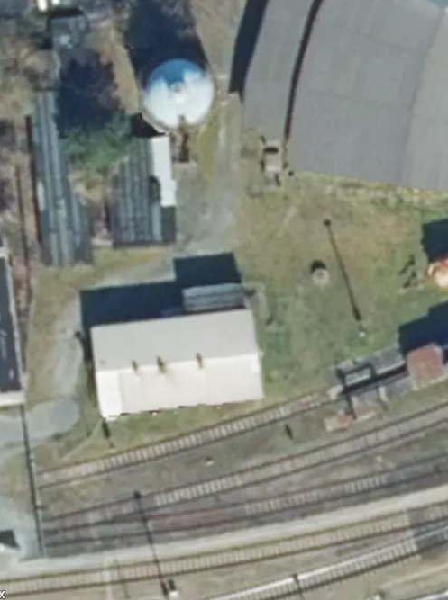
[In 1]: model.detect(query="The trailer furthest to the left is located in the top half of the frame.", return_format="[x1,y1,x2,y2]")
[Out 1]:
[260,144,282,189]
